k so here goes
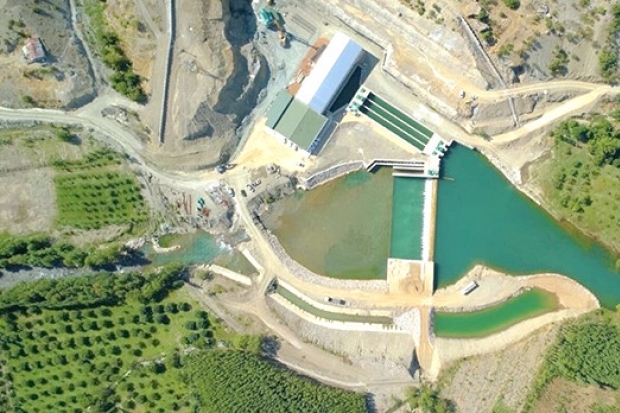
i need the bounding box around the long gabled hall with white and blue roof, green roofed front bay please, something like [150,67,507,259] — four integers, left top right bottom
[275,33,363,154]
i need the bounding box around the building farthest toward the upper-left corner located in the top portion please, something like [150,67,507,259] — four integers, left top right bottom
[27,36,51,65]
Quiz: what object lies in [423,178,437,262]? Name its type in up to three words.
dam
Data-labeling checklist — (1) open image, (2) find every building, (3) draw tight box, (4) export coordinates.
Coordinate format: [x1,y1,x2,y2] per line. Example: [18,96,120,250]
[27,36,51,65]
[275,33,363,154]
